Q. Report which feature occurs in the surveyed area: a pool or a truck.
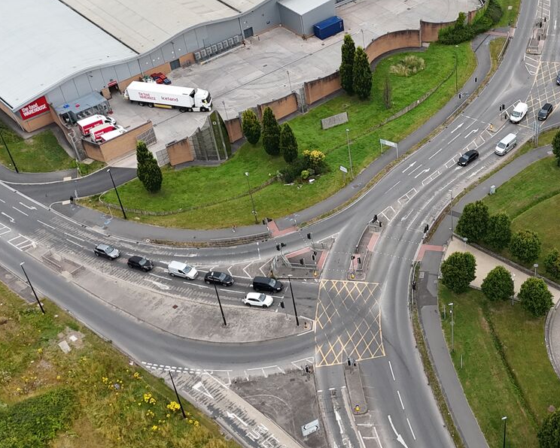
truck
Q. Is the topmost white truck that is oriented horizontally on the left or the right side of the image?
left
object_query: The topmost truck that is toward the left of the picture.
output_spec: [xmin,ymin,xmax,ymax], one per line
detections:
[121,75,216,113]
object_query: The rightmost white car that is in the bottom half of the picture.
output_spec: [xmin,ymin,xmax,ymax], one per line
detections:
[239,288,275,307]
